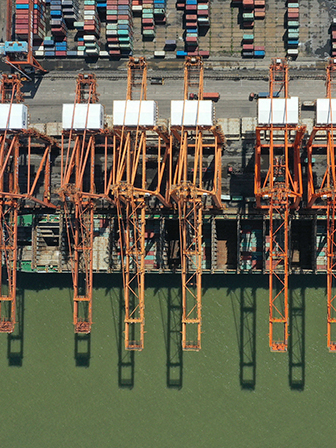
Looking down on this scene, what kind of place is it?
port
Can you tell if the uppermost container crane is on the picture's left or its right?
left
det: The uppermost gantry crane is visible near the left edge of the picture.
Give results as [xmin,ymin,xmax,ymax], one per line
[0,0,55,74]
